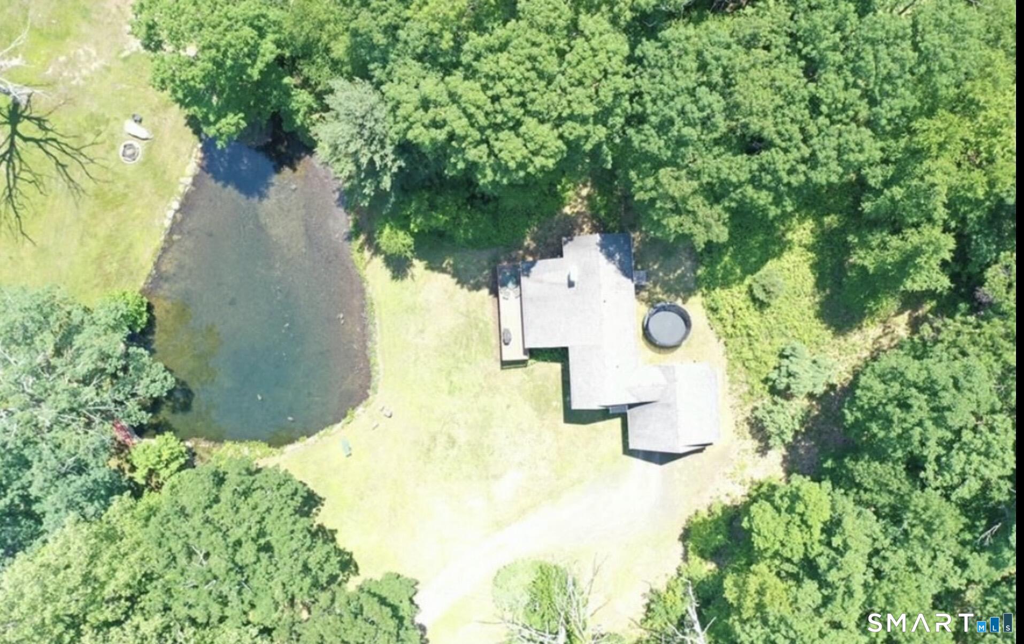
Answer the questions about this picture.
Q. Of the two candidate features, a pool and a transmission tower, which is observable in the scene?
pool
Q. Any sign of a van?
No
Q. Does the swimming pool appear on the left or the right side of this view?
right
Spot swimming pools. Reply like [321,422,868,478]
[643,300,695,350]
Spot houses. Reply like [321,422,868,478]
[518,233,722,456]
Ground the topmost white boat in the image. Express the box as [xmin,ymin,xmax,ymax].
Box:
[123,119,151,138]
